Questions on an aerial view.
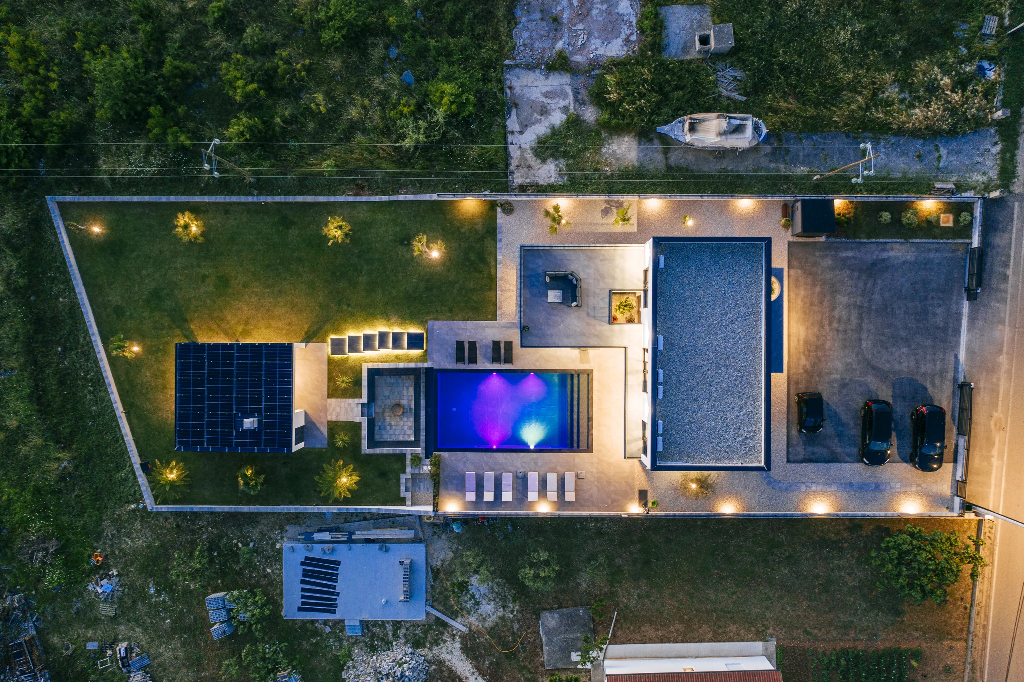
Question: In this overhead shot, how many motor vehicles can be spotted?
three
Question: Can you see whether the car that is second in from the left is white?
No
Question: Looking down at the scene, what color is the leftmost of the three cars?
black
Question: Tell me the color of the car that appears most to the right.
black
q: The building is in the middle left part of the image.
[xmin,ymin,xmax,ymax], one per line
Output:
[173,343,305,452]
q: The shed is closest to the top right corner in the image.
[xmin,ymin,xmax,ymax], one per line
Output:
[791,198,836,237]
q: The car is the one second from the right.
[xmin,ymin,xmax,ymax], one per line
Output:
[857,399,894,466]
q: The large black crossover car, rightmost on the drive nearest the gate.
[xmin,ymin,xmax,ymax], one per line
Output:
[909,405,949,473]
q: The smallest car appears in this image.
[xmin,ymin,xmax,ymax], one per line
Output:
[795,393,828,433]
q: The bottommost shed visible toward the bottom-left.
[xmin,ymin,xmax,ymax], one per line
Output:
[7,640,46,682]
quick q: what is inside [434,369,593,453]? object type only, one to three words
swimming pool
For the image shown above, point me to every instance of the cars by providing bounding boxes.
[909,405,949,473]
[857,399,894,466]
[795,393,828,433]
